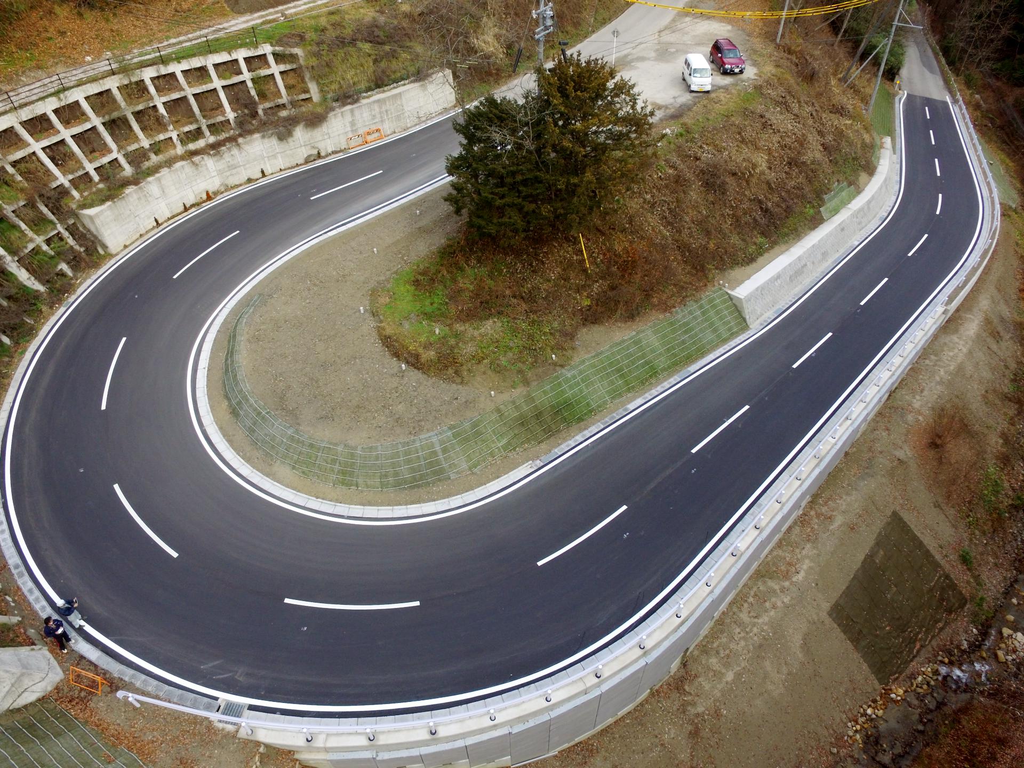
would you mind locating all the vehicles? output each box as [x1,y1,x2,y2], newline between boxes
[712,29,751,65]
[686,46,717,85]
